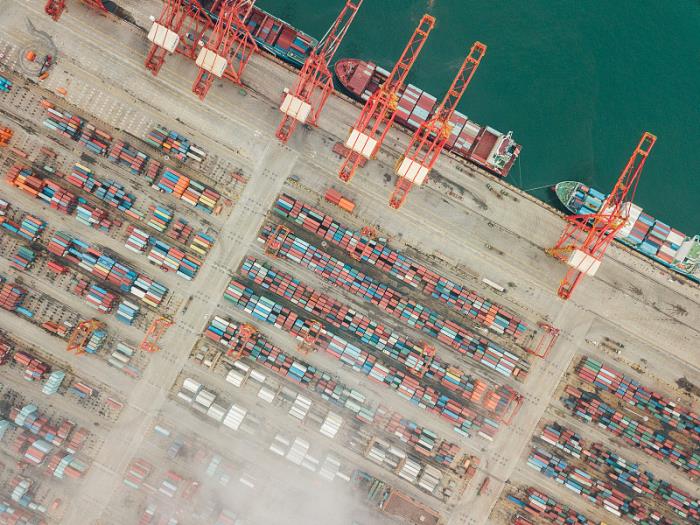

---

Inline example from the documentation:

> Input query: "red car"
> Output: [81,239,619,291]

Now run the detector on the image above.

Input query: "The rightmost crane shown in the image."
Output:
[546,127,661,304]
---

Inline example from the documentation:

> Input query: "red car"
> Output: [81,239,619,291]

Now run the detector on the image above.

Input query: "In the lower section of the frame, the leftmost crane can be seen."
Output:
[73,319,112,355]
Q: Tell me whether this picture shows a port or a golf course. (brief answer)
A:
port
